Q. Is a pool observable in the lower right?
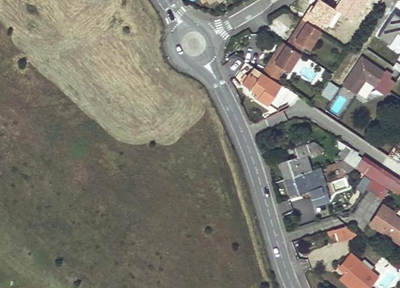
Yes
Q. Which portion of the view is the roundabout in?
top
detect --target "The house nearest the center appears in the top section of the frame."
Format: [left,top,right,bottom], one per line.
[242,70,281,106]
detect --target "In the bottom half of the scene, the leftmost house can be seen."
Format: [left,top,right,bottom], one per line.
[276,142,330,216]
